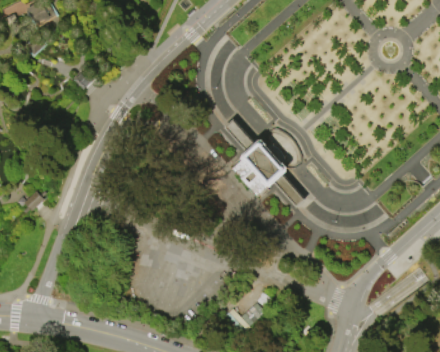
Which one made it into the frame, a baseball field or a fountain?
fountain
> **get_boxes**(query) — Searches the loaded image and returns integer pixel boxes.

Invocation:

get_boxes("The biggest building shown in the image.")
[235,140,287,193]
